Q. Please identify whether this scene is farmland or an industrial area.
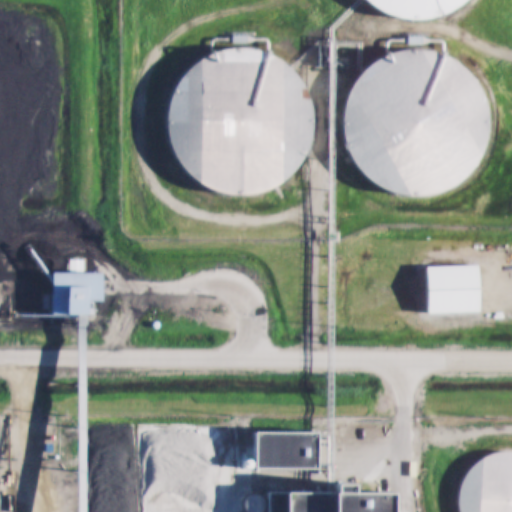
industrial area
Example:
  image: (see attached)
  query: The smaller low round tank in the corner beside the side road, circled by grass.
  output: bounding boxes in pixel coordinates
[457,450,512,512]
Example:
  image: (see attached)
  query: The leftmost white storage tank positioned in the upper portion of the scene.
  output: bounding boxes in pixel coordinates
[168,32,318,200]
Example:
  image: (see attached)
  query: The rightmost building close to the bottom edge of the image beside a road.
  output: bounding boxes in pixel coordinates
[340,484,398,512]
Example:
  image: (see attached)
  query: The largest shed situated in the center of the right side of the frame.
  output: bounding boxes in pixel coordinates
[427,265,480,314]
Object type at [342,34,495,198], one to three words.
storage tank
